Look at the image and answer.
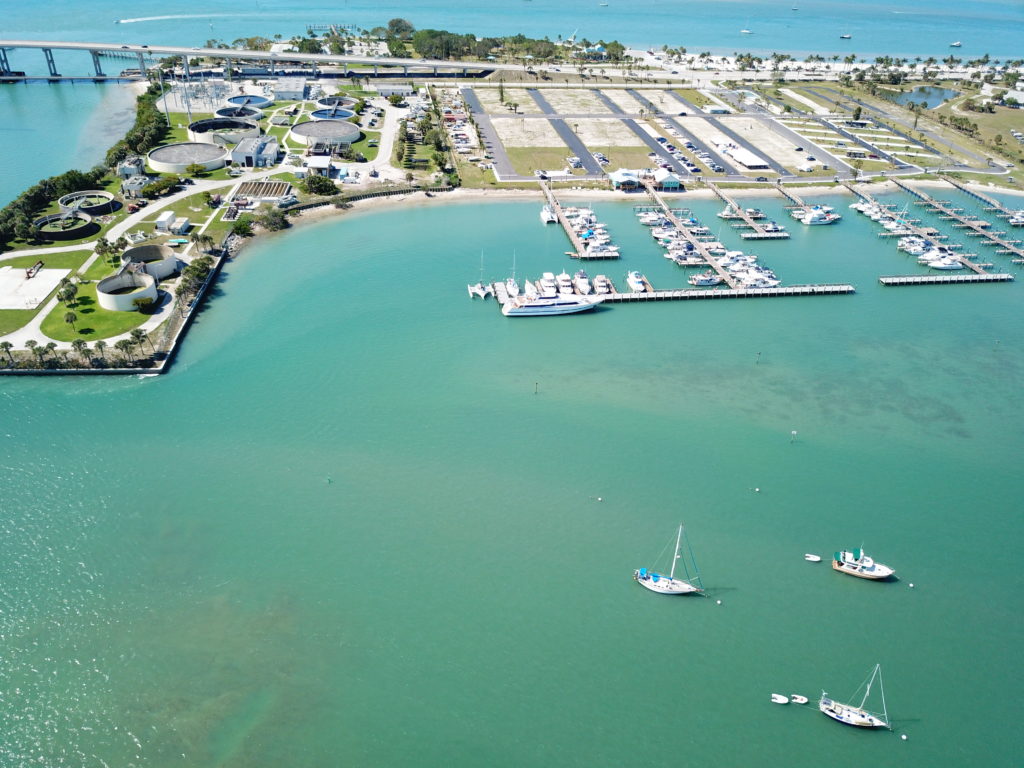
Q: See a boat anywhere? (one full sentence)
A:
Yes, I can see a boat in this picture.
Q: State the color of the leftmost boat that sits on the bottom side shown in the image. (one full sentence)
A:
The leftmost boat that sits on the bottom side looks white in the image.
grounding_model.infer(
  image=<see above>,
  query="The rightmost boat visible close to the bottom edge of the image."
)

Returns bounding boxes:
[820,664,899,736]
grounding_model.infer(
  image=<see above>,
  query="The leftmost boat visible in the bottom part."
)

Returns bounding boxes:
[634,523,701,596]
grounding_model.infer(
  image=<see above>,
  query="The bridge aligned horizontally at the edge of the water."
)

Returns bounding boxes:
[0,38,492,82]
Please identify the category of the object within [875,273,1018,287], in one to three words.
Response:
pier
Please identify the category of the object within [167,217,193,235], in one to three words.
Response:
shed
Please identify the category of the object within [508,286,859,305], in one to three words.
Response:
pier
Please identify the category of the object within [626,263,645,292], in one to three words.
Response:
boat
